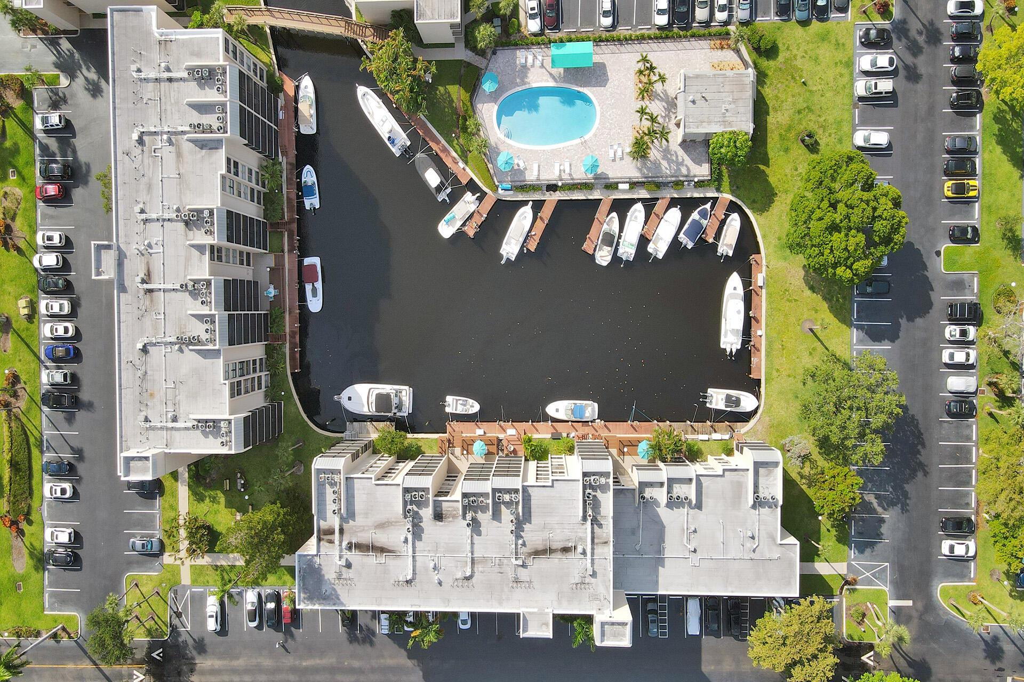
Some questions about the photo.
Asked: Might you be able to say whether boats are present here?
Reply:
Yes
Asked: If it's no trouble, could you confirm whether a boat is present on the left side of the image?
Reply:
Yes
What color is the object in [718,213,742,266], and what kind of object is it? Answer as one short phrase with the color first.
white boat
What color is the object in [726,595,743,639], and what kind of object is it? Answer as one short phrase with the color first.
black vehicle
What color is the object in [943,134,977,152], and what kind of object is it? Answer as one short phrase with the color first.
gray car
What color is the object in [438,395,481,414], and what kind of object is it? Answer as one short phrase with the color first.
white boat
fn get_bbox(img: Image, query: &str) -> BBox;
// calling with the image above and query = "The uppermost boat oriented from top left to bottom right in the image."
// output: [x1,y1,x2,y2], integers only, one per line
[353,79,412,166]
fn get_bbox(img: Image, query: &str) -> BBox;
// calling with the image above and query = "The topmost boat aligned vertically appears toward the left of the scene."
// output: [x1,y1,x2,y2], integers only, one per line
[298,74,317,135]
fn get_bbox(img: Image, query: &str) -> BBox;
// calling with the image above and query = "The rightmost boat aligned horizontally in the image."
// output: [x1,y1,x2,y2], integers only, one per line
[694,387,759,413]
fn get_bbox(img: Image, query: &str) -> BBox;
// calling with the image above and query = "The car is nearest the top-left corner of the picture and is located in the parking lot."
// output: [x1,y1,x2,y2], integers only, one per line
[36,113,68,131]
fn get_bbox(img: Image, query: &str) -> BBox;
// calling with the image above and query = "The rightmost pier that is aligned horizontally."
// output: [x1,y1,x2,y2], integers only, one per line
[654,422,749,434]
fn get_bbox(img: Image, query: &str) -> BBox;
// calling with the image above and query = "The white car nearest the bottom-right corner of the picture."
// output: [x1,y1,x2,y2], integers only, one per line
[941,540,975,558]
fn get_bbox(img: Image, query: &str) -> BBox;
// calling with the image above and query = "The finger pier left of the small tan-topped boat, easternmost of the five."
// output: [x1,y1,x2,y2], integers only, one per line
[704,196,736,241]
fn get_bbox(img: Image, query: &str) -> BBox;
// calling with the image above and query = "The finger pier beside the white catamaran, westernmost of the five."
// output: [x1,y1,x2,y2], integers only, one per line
[464,193,497,238]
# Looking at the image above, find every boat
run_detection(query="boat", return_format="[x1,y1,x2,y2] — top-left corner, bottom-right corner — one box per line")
[419,154,451,211]
[694,387,759,413]
[302,164,321,219]
[546,400,599,421]
[438,395,481,414]
[303,257,324,312]
[718,213,742,266]
[619,198,647,272]
[644,199,678,268]
[593,212,621,270]
[441,185,485,237]
[353,79,412,166]
[677,197,713,256]
[719,272,746,363]
[332,385,414,416]
[298,74,317,135]
[498,200,532,272]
